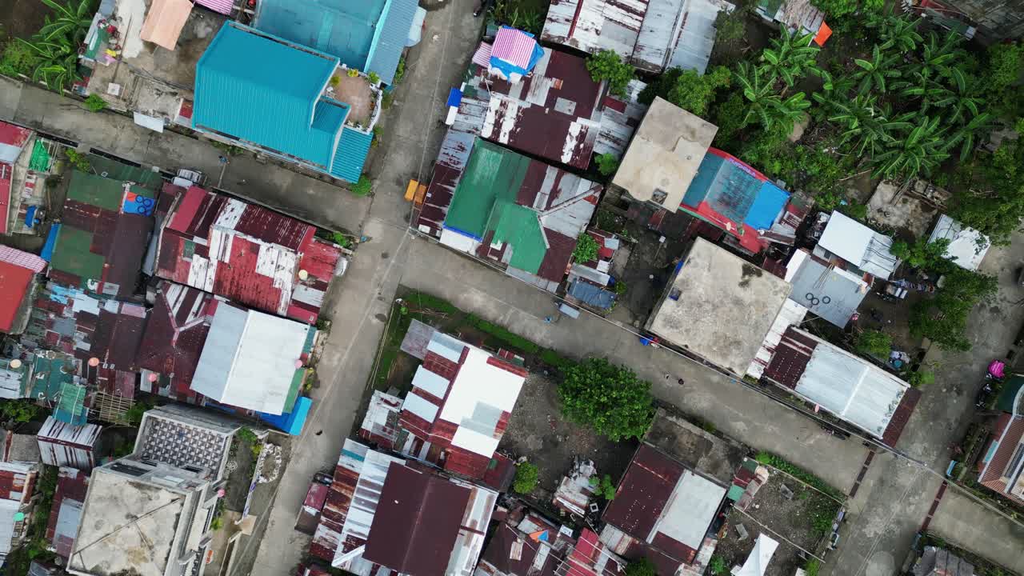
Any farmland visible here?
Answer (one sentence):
No, there's no farmland in this view.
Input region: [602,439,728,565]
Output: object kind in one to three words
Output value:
house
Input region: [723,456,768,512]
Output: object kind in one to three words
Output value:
shed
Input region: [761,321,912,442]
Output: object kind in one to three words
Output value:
house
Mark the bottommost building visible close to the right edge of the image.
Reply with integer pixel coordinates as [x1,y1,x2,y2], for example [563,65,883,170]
[897,540,975,576]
